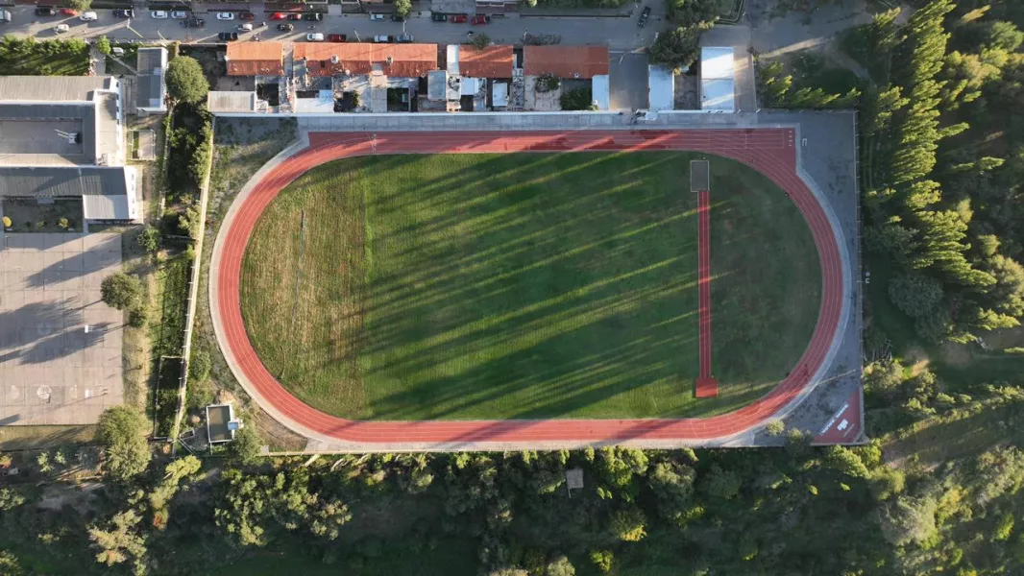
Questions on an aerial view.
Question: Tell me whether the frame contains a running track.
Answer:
Yes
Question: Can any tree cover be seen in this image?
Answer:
Yes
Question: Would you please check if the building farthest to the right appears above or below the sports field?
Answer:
above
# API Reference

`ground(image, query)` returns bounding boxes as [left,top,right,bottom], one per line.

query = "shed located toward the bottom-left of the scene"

[208,404,245,442]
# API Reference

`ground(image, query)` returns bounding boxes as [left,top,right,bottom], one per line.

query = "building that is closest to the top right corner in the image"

[697,47,734,112]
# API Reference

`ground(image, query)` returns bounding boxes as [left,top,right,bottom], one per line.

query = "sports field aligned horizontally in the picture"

[241,152,822,420]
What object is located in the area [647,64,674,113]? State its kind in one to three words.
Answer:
building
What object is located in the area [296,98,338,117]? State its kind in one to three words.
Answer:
shed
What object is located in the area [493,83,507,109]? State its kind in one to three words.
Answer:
shed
